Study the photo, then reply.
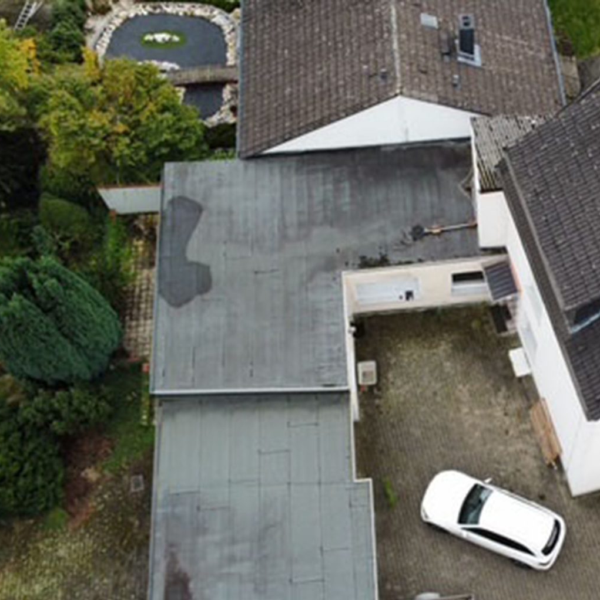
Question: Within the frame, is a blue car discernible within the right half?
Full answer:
No, no blue car can be made out within the right half.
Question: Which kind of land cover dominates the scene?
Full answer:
The bulk of the photo consists of buildings.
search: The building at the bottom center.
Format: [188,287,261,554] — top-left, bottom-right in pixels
[146,392,382,600]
